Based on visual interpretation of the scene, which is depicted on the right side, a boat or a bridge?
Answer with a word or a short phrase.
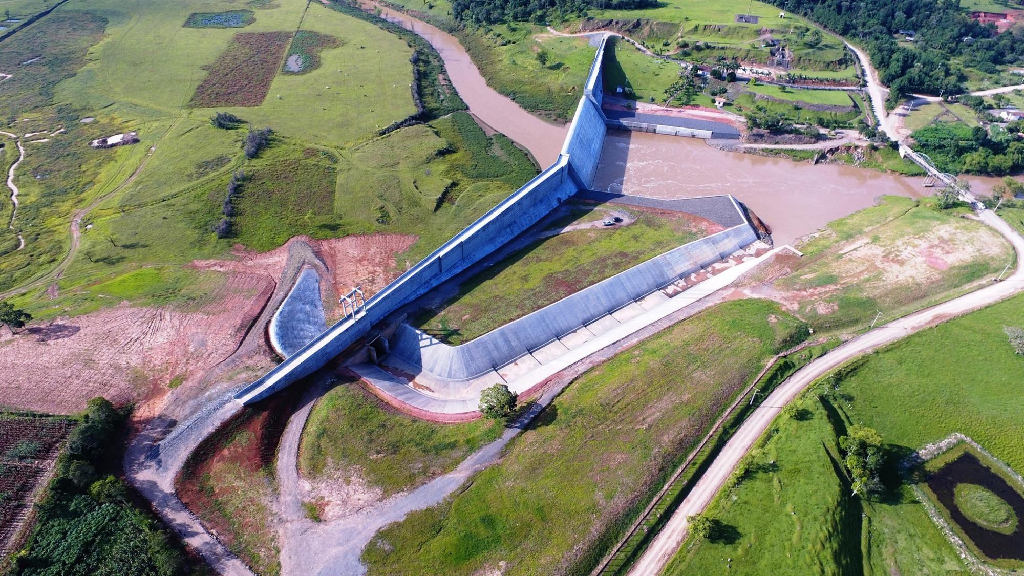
bridge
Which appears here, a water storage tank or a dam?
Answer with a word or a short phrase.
dam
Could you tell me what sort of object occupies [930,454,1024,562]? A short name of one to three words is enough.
pond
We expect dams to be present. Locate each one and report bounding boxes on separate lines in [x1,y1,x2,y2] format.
[235,38,607,414]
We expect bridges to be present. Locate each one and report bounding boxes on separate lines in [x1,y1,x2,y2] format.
[888,145,975,204]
